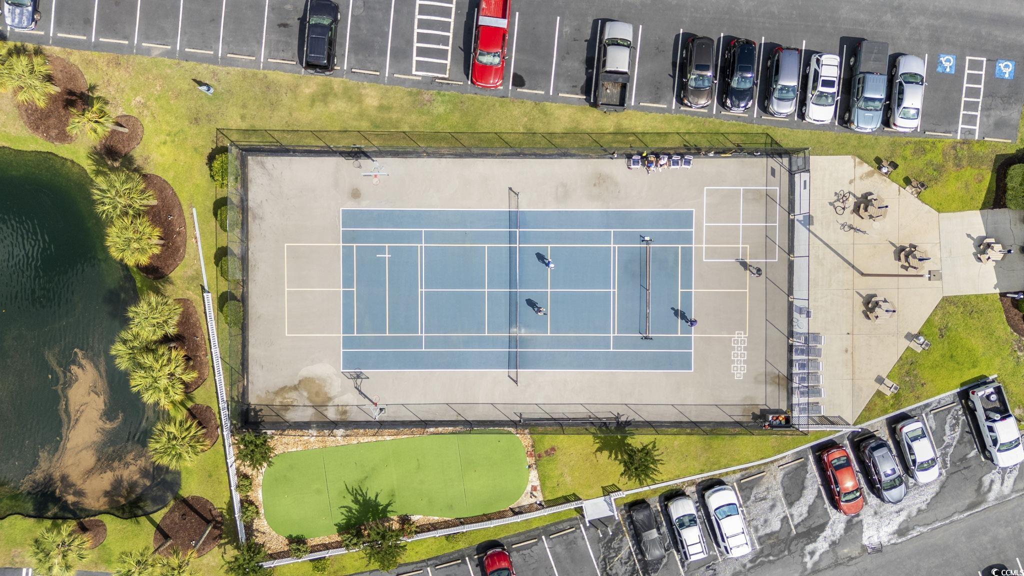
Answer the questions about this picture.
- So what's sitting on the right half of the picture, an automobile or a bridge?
automobile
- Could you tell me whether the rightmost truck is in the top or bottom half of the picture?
bottom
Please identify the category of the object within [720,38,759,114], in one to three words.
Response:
car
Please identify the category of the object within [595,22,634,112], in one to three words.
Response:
truck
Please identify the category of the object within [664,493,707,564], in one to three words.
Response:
car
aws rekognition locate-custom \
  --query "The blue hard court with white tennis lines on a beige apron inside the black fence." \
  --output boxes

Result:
[248,156,789,421]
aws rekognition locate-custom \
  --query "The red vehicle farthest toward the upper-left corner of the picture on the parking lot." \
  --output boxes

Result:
[470,0,512,87]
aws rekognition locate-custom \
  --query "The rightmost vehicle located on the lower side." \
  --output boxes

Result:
[965,379,1023,469]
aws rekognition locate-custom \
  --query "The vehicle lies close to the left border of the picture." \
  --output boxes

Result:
[2,0,42,34]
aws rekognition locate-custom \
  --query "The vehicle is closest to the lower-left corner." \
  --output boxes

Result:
[488,546,522,576]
